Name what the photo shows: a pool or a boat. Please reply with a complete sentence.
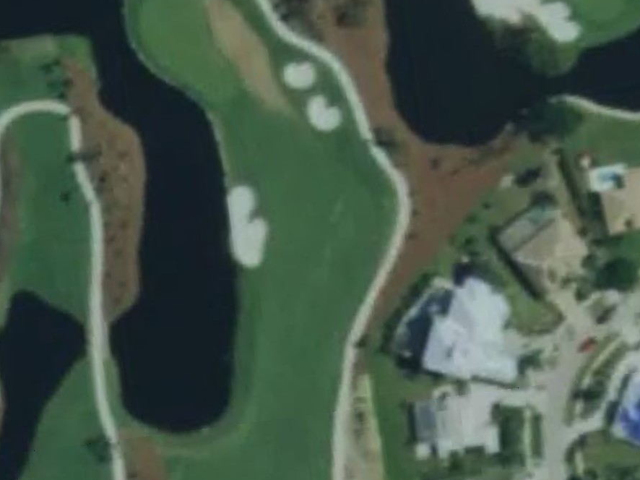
Looking from above, you can make out a pool.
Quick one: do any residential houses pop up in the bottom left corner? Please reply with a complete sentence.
No, in the bottom left corner there is no residential house.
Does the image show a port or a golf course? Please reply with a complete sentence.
This looks like a golf course.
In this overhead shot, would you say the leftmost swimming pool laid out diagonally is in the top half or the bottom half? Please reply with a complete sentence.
The bottom half of the photo is where the leftmost swimming pool laid out diagonally is.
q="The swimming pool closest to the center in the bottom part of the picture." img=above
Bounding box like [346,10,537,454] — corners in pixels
[397,287,451,363]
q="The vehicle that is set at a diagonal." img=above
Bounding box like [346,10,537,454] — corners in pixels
[579,338,596,352]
